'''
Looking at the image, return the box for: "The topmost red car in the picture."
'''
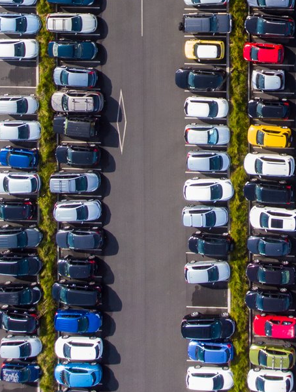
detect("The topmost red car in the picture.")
[244,42,284,65]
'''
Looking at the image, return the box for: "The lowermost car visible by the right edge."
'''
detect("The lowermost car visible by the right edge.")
[248,365,293,392]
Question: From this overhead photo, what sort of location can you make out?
parking lot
